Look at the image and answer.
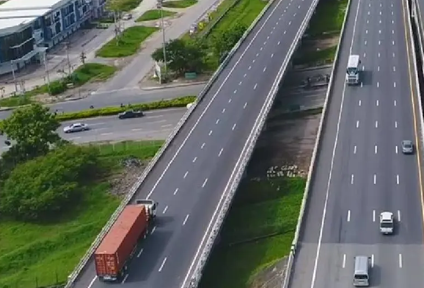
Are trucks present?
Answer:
Yes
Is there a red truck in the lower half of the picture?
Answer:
Yes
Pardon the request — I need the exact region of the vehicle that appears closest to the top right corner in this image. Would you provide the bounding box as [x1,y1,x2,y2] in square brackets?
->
[347,56,360,84]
